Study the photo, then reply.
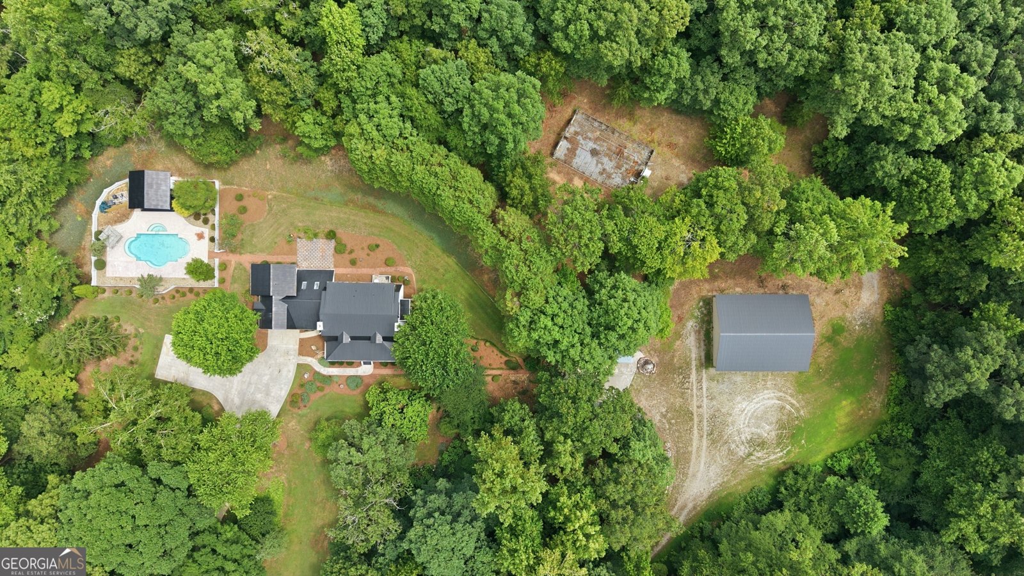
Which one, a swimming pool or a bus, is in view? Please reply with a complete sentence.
It is a swimming pool that can be seen here.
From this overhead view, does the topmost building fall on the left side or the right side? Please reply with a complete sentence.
The topmost building appears in the left half of the scene.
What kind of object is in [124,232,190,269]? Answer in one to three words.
swimming pool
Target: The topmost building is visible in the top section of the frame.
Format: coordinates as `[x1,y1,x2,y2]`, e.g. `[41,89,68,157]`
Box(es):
[128,170,179,214]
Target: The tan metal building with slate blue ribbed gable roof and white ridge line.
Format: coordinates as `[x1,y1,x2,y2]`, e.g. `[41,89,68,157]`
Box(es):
[712,294,815,371]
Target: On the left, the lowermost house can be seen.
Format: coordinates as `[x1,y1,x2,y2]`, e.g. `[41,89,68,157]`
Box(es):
[250,263,412,366]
